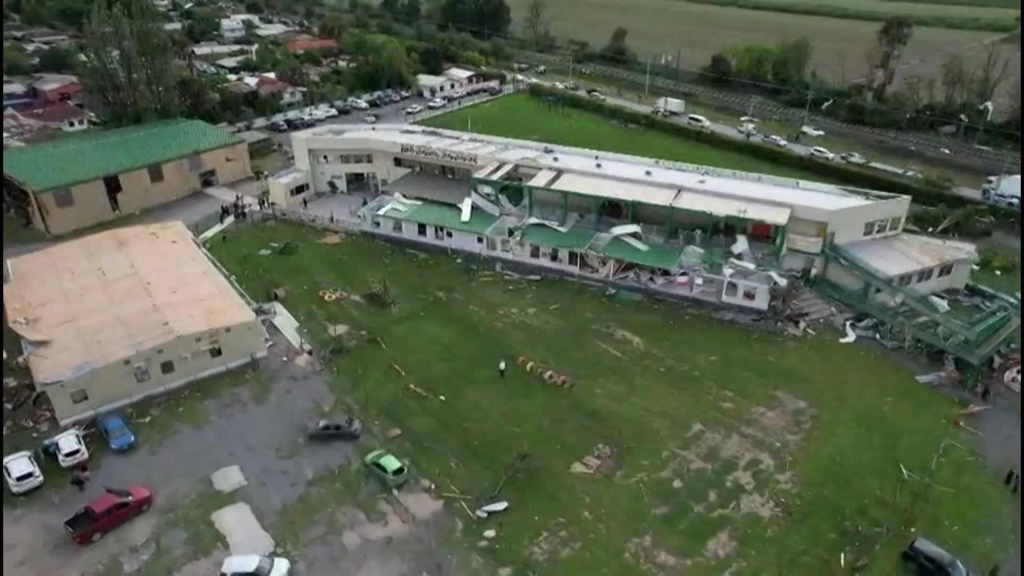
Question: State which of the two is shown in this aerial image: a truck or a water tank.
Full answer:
This aerial view contains a truck.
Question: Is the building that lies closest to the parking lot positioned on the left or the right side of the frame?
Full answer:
The building that lies closest to the parking lot appears in the left half of the scene.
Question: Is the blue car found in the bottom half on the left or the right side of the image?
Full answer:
The blue car found in the bottom half appears in the left half of the scene.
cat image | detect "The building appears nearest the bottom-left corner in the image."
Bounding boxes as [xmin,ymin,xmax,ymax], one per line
[14,215,270,428]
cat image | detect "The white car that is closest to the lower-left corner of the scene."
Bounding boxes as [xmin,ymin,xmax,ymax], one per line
[0,452,45,498]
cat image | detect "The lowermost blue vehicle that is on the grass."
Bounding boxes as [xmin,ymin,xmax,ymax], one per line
[91,412,137,454]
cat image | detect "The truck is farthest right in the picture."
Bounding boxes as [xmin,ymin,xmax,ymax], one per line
[976,176,1024,209]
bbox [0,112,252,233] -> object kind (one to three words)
building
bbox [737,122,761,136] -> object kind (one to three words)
car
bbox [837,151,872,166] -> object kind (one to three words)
vehicle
